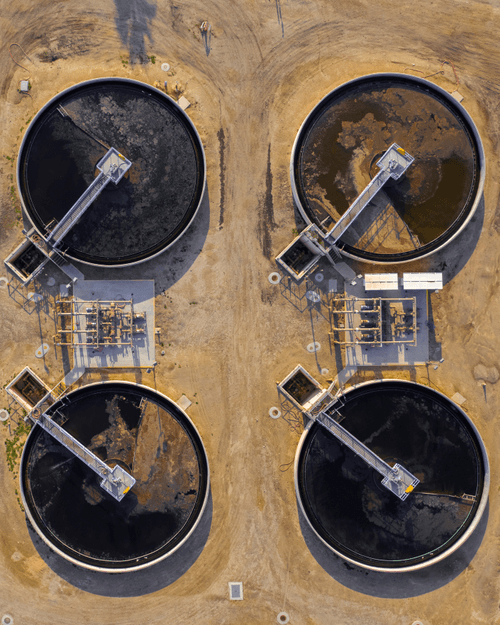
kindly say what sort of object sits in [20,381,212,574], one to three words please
storage tank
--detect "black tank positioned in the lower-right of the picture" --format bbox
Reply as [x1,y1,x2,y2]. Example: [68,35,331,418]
[296,378,490,571]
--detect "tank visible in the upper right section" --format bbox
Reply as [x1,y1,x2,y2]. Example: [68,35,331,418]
[292,72,485,265]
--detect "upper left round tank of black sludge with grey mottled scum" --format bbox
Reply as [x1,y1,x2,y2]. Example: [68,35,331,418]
[16,76,209,269]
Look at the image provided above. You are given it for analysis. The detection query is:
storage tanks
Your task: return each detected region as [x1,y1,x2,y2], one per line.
[292,72,485,265]
[16,76,209,269]
[296,378,490,571]
[20,381,212,574]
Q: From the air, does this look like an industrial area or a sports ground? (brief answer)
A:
industrial area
